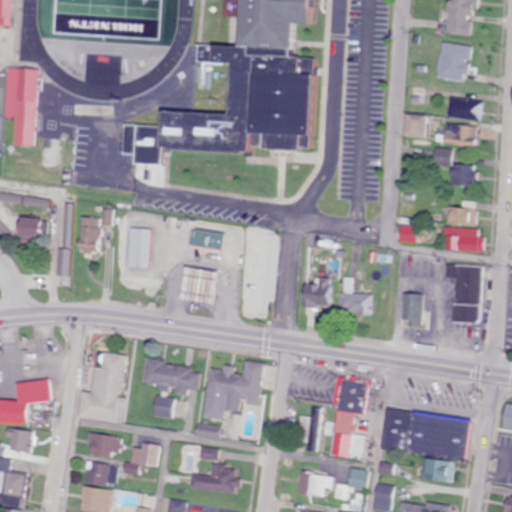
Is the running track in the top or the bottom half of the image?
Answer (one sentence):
You can find the running track in the top half.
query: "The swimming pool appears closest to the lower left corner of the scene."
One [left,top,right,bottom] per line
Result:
[116,494,138,508]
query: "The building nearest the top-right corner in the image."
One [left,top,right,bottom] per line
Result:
[445,0,478,36]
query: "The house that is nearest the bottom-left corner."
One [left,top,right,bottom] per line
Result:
[0,472,30,509]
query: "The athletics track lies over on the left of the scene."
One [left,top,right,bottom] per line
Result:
[21,0,194,102]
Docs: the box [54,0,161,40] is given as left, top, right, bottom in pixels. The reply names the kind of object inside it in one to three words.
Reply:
sports field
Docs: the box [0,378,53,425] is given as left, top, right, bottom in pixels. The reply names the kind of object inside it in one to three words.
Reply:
building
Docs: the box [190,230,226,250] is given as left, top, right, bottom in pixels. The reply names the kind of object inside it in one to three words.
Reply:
shed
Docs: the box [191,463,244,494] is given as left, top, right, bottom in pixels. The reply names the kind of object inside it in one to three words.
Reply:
house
